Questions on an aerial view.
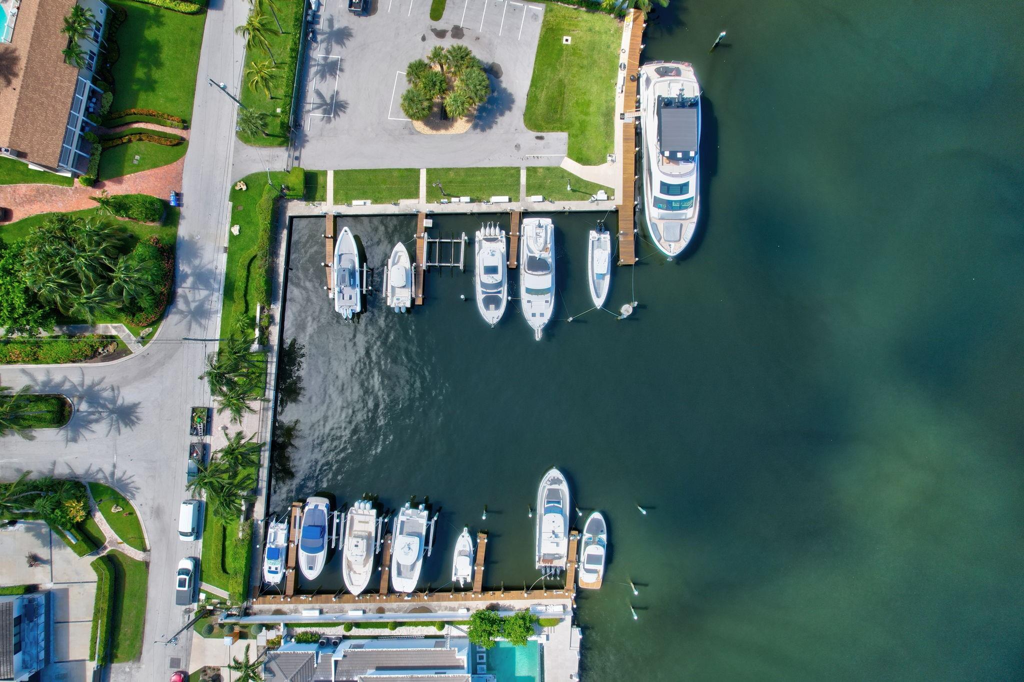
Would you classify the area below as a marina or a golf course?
marina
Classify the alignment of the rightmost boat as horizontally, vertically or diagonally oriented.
vertically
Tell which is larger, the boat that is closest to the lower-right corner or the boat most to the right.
the boat most to the right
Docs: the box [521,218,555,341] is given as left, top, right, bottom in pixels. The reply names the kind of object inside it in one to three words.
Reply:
boat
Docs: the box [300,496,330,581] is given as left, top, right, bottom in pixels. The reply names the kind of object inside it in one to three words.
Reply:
boat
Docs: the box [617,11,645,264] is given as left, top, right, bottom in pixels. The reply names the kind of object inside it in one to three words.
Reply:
pier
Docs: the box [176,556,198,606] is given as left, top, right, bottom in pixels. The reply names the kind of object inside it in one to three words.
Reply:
truck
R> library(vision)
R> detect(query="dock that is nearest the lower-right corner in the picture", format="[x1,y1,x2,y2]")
[565,531,578,592]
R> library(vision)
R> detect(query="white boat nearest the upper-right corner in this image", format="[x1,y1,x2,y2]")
[639,59,701,259]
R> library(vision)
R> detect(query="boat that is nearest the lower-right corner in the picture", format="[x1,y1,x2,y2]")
[579,509,607,589]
